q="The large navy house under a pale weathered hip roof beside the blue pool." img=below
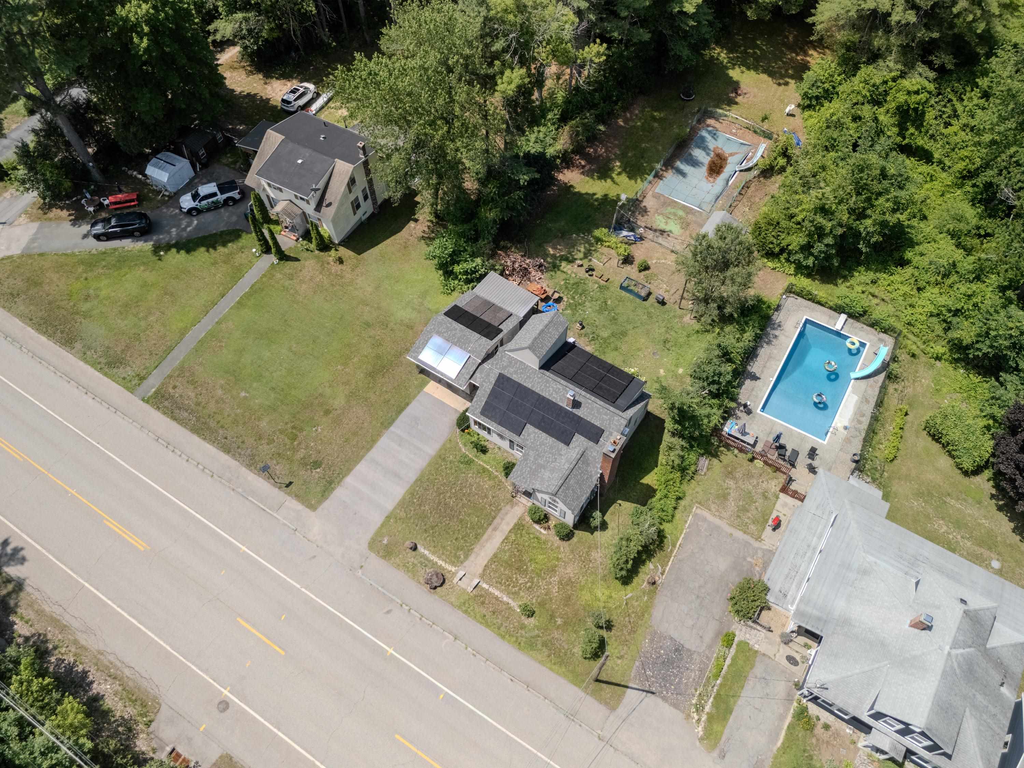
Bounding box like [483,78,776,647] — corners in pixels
[762,467,1024,768]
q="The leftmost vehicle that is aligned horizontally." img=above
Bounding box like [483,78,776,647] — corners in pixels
[86,209,153,243]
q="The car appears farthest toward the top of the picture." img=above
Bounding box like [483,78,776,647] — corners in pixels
[275,81,325,116]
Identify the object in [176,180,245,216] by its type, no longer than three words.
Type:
truck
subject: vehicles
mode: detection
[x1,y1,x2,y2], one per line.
[86,209,153,243]
[176,180,245,216]
[275,81,325,116]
